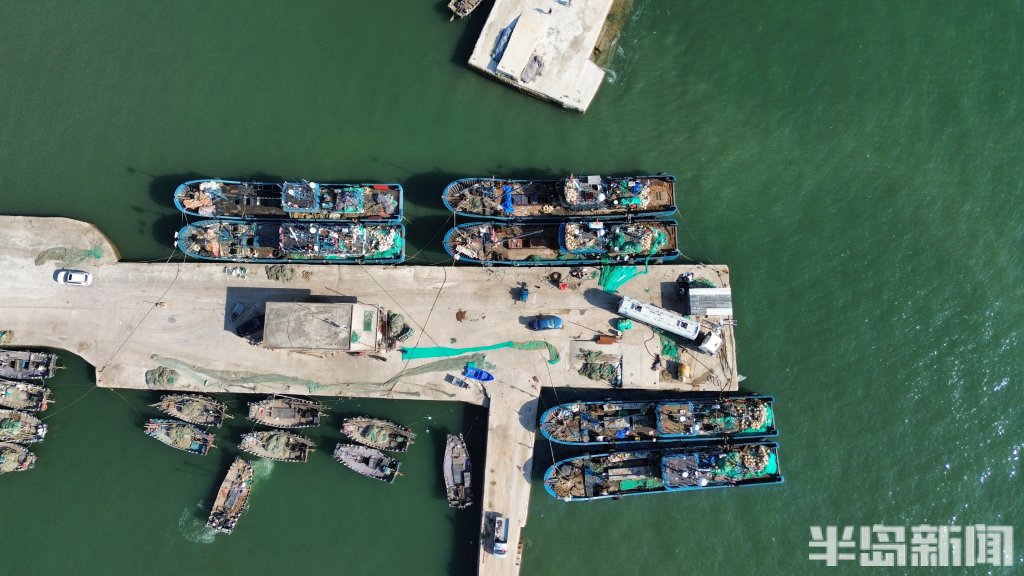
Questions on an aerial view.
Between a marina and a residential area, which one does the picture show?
marina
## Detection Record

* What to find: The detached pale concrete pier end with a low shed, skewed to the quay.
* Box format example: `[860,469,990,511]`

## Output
[468,0,614,116]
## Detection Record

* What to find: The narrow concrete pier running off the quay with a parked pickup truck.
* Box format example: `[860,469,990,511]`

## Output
[479,388,541,576]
